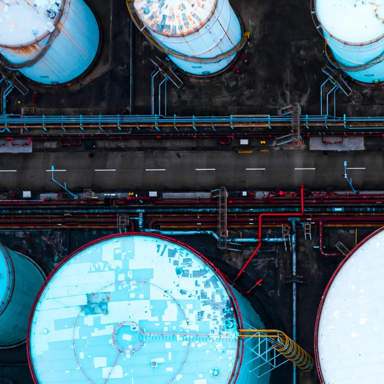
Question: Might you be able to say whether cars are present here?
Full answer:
No, this view has no car in it.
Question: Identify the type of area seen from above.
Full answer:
It's an industrial area.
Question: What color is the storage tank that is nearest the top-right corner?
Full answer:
The storage tank that is nearest the top-right corner is white.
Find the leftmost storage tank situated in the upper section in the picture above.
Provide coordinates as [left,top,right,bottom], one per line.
[0,0,100,91]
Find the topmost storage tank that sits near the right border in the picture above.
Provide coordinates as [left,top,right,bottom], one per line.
[309,0,384,87]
